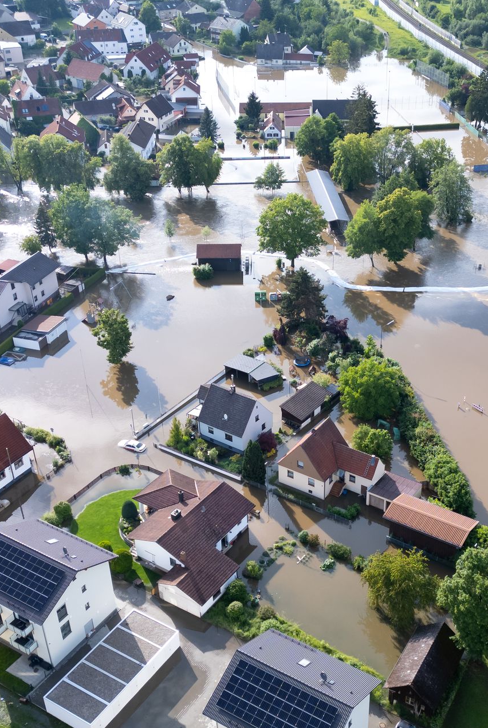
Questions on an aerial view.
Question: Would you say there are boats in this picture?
No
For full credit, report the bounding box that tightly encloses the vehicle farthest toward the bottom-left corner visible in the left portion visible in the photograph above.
[119,441,147,454]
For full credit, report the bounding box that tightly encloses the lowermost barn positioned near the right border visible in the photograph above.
[384,623,466,723]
